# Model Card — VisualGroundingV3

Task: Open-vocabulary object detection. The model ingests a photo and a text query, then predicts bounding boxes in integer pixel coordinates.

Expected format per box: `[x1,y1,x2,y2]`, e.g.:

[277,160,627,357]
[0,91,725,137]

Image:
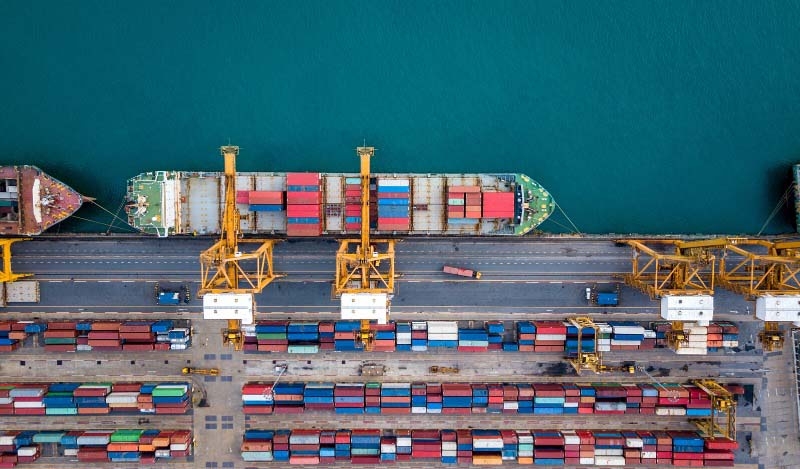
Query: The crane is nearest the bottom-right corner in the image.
[688,379,737,442]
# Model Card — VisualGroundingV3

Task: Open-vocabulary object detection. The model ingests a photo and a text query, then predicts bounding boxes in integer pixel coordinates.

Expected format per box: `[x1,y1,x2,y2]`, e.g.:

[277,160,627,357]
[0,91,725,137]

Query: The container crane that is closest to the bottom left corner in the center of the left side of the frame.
[0,241,32,285]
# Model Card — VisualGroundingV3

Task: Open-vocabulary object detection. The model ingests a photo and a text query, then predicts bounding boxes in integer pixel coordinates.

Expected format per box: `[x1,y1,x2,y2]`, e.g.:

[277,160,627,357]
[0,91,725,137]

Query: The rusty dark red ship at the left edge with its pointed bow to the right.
[0,165,100,237]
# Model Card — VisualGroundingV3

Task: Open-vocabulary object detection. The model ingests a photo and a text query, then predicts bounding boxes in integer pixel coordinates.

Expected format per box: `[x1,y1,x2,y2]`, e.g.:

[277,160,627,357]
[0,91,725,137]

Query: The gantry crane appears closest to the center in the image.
[330,137,409,345]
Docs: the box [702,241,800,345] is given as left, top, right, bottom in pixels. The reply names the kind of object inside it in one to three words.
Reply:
container crane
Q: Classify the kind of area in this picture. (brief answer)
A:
port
